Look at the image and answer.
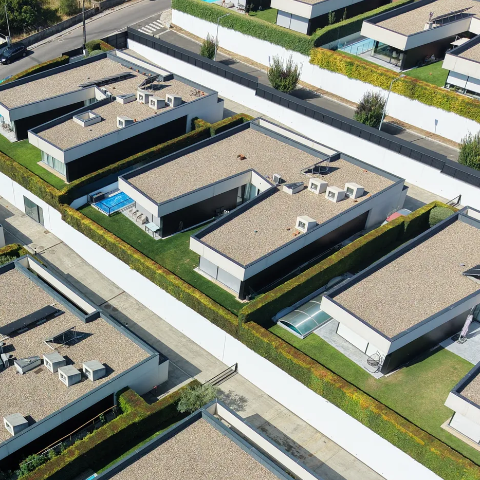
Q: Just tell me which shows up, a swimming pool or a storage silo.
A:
swimming pool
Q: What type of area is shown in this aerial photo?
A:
residential area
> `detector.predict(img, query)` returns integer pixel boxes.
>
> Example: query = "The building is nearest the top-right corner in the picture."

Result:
[364,0,480,98]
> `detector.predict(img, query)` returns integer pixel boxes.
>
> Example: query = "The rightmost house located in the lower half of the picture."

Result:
[325,208,480,448]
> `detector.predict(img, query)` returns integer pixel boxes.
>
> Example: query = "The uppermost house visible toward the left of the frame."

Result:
[0,50,222,182]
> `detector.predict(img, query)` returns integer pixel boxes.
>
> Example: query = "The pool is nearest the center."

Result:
[91,186,135,215]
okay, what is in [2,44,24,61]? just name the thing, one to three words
car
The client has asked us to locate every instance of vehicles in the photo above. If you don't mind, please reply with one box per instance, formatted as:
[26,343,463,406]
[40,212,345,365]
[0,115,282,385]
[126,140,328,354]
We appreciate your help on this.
[381,207,408,222]
[2,44,24,61]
